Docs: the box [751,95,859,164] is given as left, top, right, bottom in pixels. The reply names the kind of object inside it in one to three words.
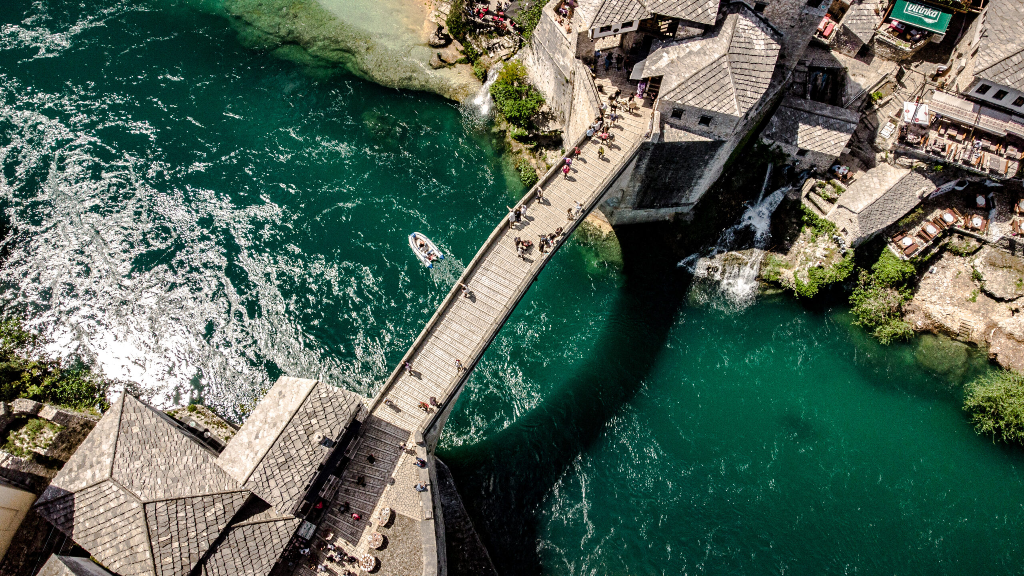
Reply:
house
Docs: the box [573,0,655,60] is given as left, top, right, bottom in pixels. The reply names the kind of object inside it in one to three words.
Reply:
building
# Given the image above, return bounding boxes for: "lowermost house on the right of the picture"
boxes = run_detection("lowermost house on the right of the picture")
[831,162,935,244]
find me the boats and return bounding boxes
[410,230,446,269]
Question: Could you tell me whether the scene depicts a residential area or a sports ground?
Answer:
residential area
